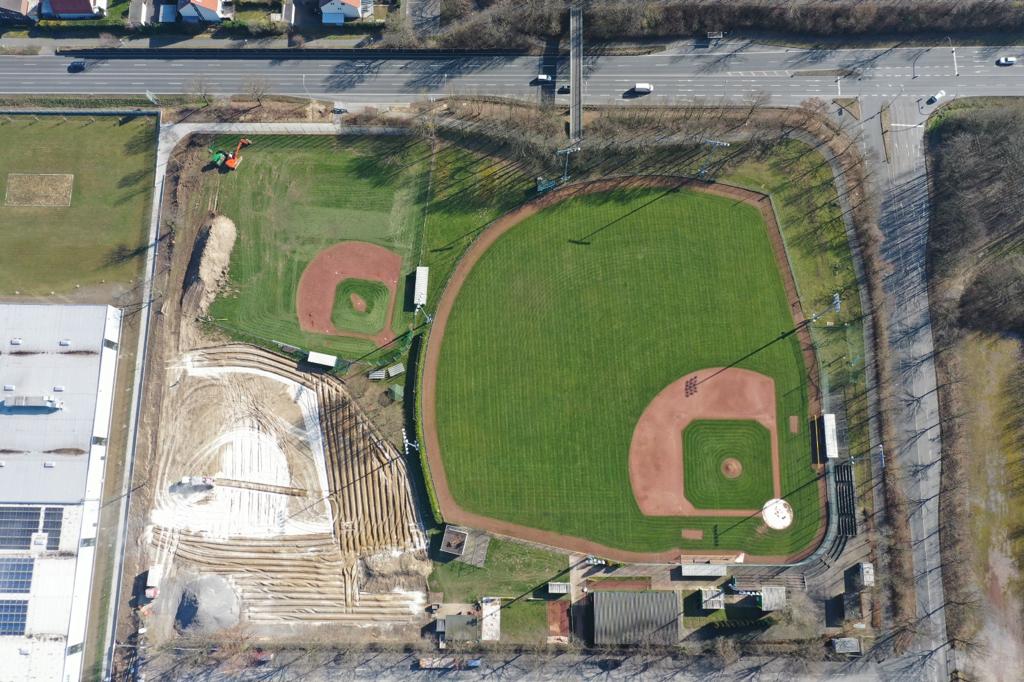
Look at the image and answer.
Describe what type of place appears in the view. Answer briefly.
sports ground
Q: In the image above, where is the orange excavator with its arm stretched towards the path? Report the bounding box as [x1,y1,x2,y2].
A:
[224,140,252,173]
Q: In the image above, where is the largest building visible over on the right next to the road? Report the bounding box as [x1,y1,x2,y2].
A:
[592,591,680,644]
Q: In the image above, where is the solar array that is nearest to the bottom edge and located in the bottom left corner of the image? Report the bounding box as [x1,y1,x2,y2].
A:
[0,601,30,635]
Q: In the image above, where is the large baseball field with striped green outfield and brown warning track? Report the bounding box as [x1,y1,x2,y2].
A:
[422,175,828,565]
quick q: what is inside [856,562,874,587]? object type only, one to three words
building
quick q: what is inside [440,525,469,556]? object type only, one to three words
building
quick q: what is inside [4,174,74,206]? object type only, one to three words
sports field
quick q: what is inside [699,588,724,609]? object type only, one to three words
shed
